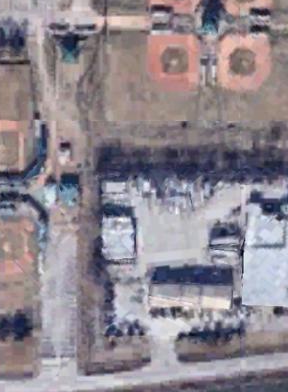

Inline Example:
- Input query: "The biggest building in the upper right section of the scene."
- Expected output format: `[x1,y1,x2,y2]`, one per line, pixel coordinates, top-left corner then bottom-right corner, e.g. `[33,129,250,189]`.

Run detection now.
[198,5,222,31]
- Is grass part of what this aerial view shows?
Yes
